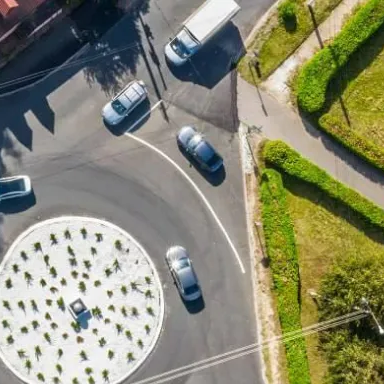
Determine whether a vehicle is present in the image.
Yes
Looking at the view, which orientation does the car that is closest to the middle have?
diagonally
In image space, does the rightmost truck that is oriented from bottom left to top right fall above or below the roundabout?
above it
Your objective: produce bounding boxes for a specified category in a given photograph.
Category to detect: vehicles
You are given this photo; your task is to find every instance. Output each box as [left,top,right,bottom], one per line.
[0,174,33,200]
[101,79,148,125]
[177,124,224,173]
[168,0,247,63]
[168,246,200,299]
